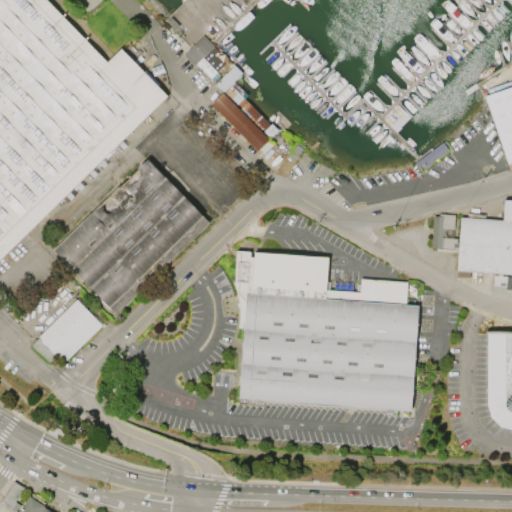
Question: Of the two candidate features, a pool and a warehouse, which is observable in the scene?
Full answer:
The one in the frame is a warehouse.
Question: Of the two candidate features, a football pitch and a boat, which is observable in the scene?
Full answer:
It is a boat that can be seen here.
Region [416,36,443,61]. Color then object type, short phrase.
white boat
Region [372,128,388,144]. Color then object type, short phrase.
white boat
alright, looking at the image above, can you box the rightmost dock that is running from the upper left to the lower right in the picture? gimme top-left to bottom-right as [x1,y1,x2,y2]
[344,98,432,158]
